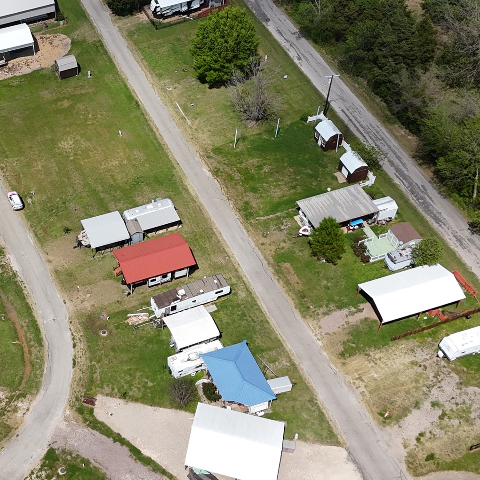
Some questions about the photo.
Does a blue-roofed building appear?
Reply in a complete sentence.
Yes, the photo shows a blue-roofed building.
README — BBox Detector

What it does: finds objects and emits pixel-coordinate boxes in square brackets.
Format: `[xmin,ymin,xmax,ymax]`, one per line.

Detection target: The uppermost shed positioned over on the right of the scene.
[313,119,344,150]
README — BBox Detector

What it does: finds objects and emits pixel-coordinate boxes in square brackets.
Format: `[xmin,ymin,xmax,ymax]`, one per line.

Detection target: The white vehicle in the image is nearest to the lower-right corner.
[431,326,480,363]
